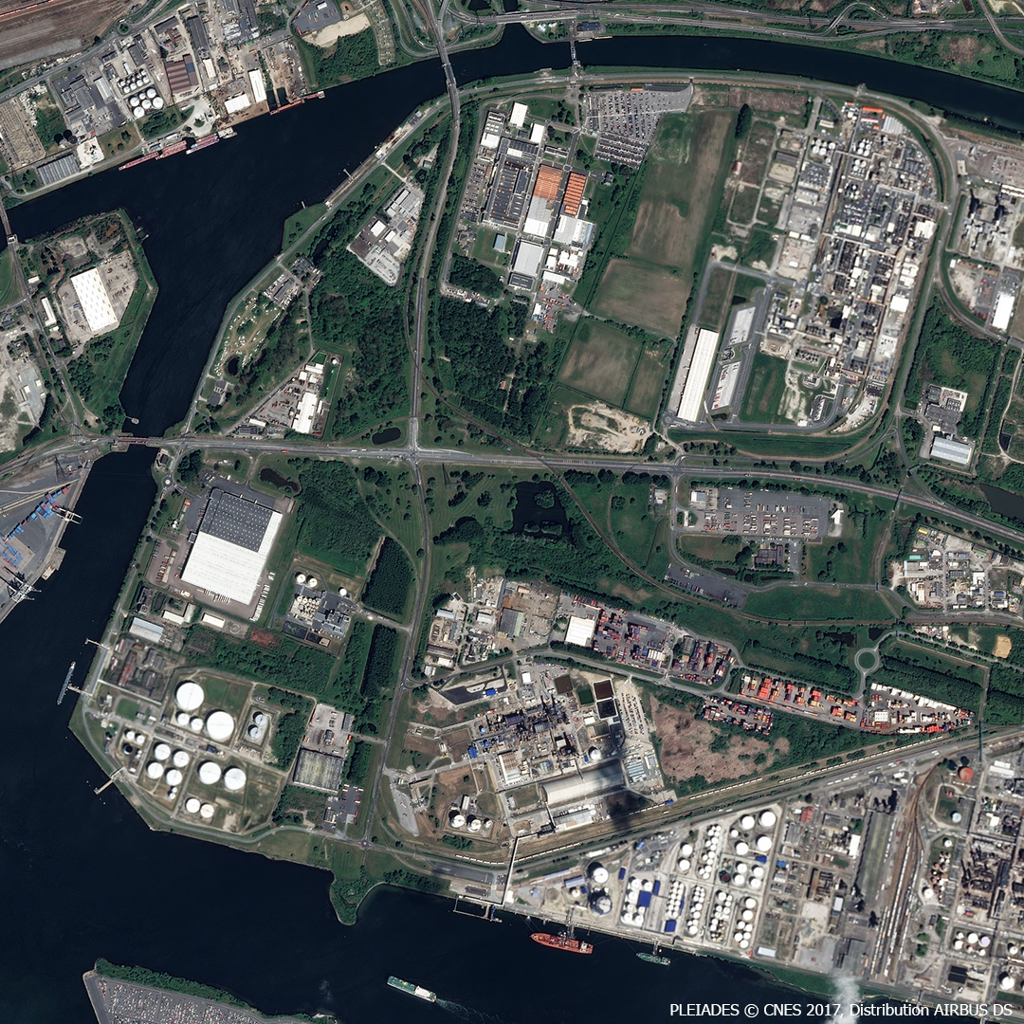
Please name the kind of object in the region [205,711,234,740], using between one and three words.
storage tank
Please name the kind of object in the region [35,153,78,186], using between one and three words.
shed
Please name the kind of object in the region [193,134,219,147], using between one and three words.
ship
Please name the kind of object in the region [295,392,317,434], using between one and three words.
building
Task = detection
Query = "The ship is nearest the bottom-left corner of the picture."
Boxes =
[57,662,75,704]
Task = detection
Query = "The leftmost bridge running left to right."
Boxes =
[111,433,166,447]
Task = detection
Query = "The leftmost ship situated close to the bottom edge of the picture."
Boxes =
[387,977,436,1003]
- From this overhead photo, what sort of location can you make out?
port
